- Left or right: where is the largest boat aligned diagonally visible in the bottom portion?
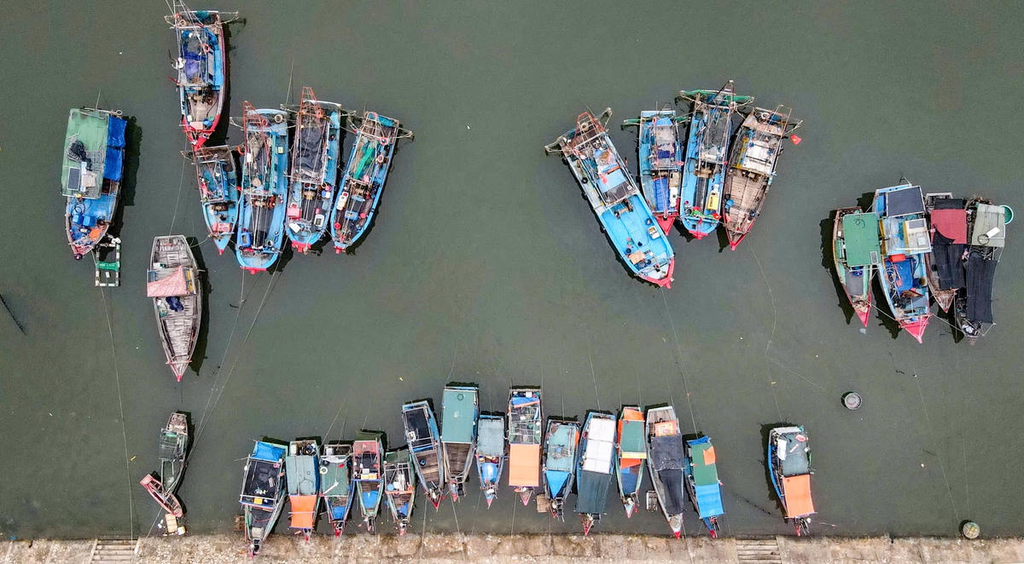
left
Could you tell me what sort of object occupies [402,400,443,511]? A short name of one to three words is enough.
boat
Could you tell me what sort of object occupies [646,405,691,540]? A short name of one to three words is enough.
boat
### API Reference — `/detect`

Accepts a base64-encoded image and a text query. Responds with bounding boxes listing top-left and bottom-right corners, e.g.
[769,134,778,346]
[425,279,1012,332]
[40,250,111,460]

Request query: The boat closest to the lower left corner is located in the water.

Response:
[139,474,183,520]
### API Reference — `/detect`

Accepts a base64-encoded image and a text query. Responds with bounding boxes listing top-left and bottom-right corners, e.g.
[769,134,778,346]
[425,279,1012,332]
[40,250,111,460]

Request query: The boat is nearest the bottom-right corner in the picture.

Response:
[959,520,979,539]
